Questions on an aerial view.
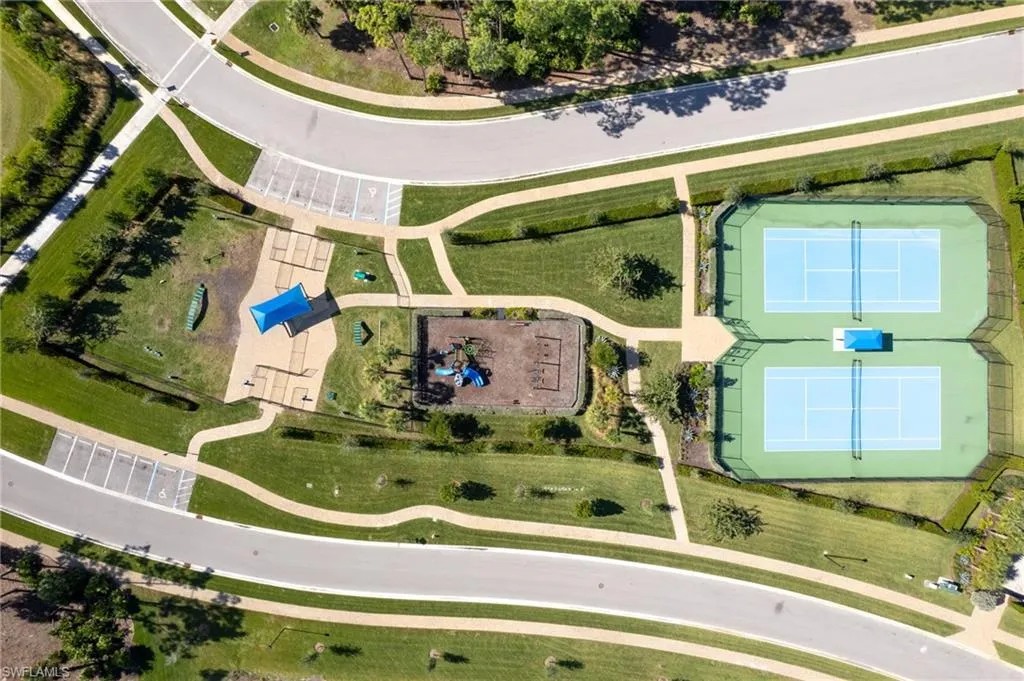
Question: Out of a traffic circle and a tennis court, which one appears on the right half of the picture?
tennis court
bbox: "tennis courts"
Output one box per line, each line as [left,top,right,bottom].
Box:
[718,340,989,479]
[718,203,988,340]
